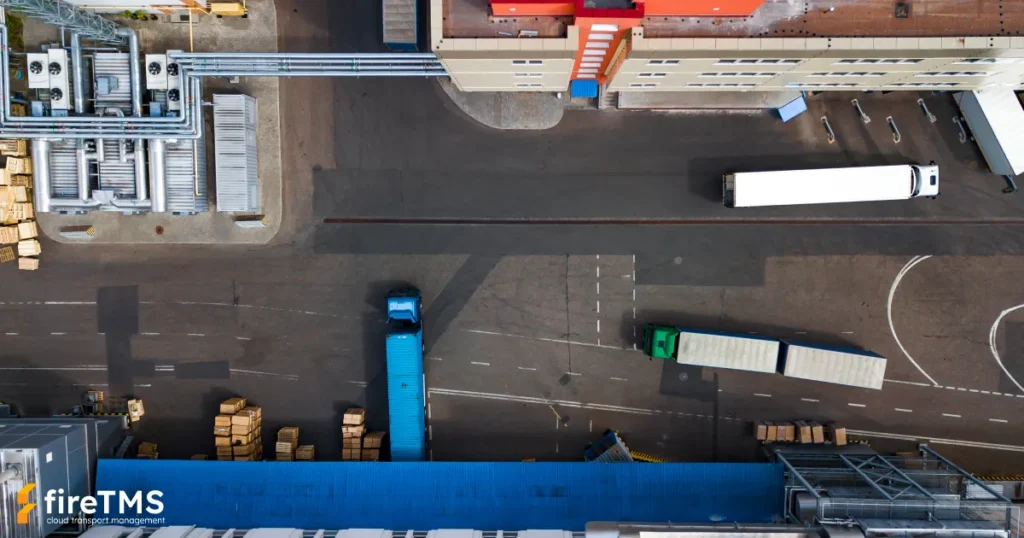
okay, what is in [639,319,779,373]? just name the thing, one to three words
truck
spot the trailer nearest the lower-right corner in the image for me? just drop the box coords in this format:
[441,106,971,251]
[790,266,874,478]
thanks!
[775,336,886,390]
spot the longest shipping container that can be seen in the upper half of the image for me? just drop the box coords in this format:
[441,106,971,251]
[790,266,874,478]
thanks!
[213,94,258,212]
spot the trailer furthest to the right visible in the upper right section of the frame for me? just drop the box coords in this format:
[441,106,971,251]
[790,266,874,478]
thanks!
[957,83,1024,188]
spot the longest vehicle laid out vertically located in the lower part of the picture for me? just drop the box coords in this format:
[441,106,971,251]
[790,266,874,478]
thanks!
[385,288,429,461]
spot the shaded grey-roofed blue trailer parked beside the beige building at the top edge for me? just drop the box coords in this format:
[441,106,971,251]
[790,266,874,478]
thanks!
[383,0,424,52]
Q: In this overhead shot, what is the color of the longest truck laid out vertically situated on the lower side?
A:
blue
